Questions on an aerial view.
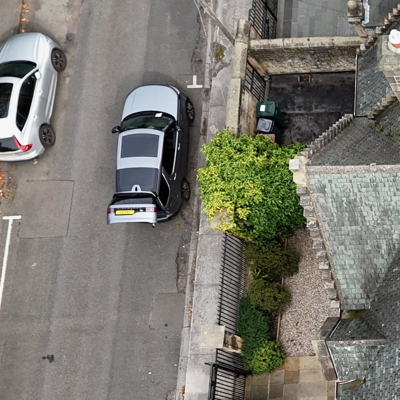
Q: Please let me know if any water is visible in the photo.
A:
No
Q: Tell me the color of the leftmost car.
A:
white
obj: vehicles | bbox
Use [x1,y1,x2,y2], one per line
[99,85,198,233]
[0,33,66,164]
